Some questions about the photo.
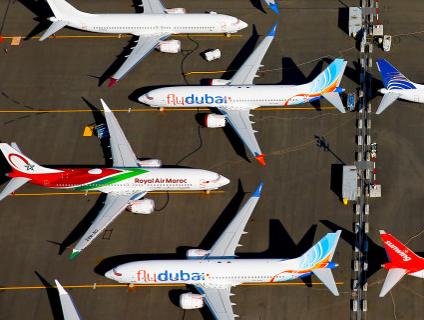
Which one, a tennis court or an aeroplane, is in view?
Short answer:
aeroplane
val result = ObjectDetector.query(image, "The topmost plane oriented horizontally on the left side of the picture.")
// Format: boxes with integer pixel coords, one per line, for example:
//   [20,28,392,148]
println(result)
[40,0,247,86]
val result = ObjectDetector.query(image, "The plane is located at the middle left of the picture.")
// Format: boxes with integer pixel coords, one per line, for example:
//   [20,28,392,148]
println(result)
[0,99,228,258]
